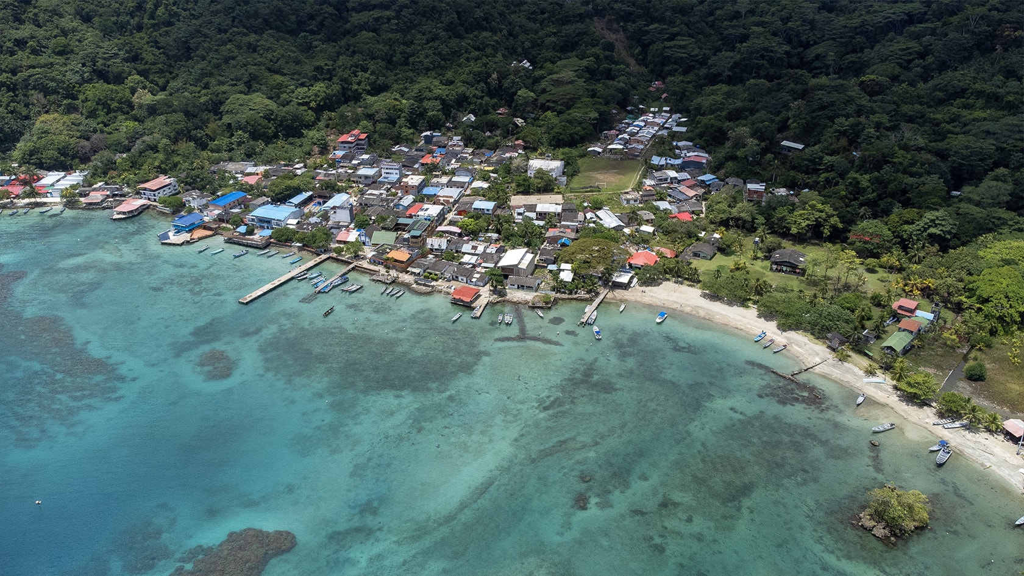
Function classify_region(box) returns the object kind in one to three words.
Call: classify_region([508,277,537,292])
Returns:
house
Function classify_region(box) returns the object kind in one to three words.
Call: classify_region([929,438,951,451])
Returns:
boat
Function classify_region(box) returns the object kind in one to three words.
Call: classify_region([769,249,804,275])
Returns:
house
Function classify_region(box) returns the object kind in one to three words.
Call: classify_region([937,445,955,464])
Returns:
boat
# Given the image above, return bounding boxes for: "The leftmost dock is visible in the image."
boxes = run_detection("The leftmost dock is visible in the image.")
[240,255,330,306]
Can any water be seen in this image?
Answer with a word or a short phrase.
Yes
